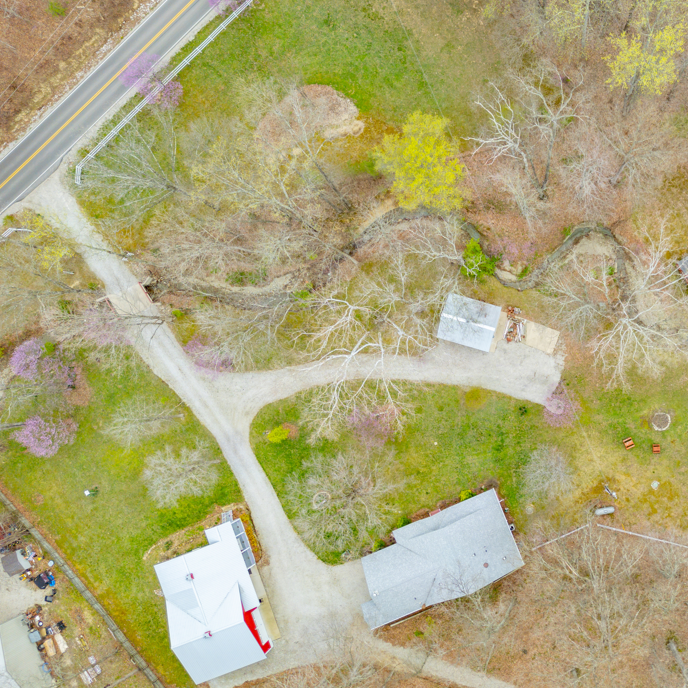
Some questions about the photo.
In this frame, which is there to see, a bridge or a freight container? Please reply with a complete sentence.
The one in the frame is a bridge.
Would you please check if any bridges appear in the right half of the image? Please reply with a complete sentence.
No, in the right half of the image there is no bridge.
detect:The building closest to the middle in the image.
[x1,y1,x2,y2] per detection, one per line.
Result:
[438,293,502,353]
